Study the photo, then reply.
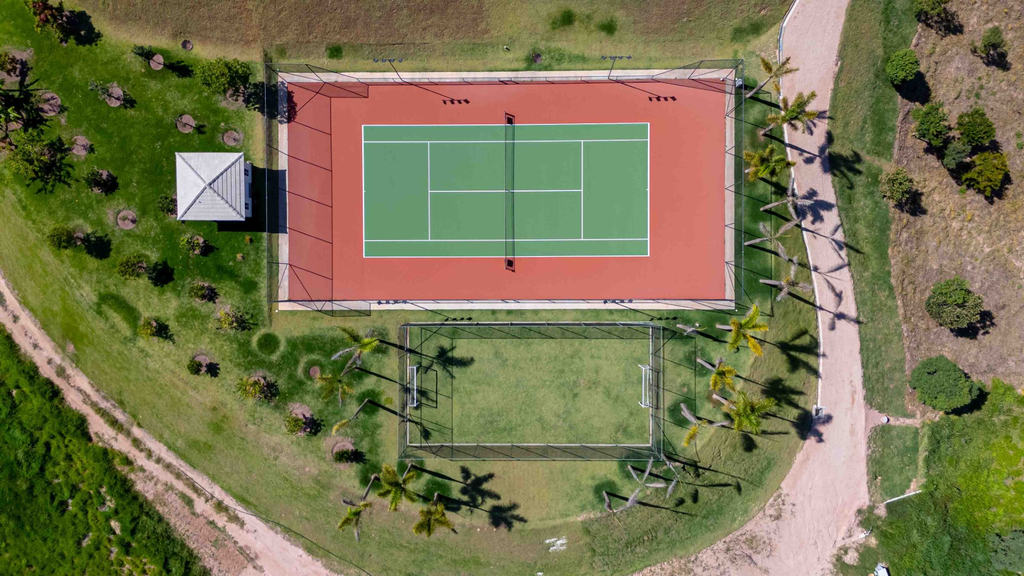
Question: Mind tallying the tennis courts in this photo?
1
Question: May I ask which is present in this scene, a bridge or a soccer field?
soccer field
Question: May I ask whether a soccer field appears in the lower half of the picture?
Yes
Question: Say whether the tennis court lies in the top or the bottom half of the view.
top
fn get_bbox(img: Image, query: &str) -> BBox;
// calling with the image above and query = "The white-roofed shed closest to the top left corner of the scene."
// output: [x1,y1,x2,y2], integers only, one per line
[174,150,252,219]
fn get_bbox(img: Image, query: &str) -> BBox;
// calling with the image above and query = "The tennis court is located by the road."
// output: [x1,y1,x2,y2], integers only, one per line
[277,69,736,310]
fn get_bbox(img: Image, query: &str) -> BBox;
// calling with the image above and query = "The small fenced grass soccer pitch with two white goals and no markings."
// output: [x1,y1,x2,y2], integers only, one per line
[406,322,653,447]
